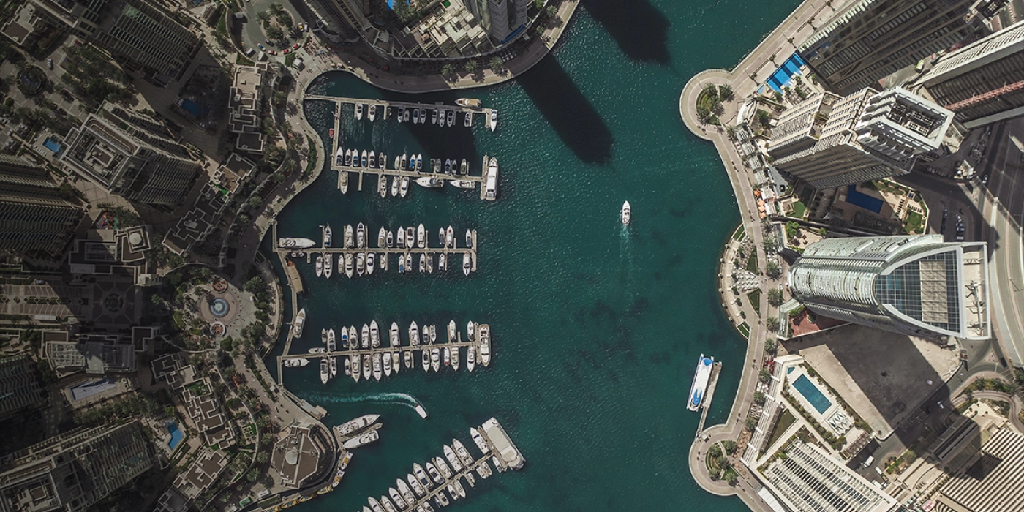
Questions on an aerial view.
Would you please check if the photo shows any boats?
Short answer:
Yes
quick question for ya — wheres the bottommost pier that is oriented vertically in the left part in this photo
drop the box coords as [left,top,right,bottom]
[275,252,298,356]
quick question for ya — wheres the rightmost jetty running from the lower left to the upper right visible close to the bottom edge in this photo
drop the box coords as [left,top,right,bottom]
[391,427,506,512]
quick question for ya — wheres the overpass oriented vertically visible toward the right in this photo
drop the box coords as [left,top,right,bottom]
[986,117,1024,396]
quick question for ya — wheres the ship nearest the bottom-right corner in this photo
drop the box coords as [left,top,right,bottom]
[687,355,713,410]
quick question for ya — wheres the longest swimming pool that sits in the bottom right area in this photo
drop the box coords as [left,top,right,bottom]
[792,372,834,416]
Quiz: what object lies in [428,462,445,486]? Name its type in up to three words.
boat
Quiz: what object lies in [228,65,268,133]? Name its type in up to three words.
house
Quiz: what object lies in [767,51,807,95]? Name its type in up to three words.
swimming pool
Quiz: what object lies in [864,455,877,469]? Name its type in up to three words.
vehicle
